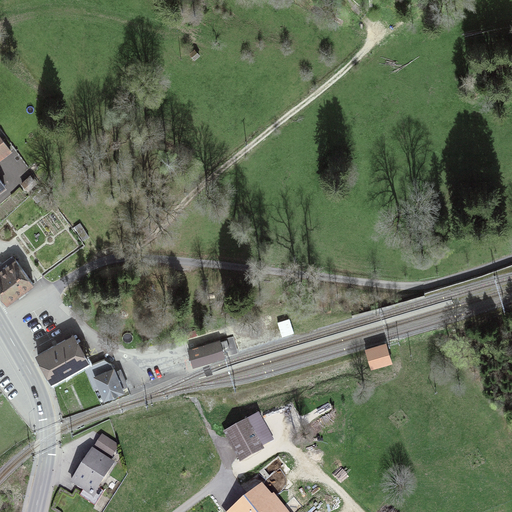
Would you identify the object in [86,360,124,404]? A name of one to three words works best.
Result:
building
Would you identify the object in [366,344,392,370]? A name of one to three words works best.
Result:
barn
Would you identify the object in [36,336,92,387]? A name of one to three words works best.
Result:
house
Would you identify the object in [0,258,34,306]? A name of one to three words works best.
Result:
house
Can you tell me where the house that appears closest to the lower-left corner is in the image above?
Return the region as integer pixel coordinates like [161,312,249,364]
[72,446,114,496]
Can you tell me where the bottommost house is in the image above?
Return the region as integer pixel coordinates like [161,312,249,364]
[228,482,290,512]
